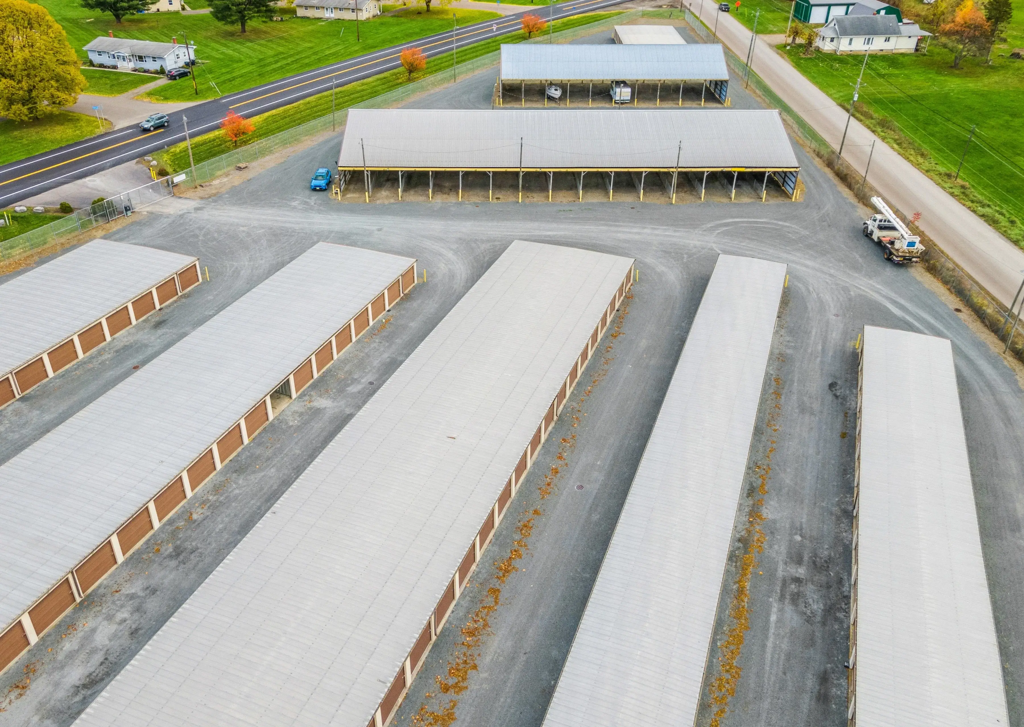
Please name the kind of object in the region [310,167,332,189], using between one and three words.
car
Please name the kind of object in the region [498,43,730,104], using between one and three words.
shed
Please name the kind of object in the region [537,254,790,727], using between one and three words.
building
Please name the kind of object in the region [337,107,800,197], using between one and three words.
shed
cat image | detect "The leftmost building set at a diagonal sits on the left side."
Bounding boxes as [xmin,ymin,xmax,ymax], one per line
[0,238,201,416]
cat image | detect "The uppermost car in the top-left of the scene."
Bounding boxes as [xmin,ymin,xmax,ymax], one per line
[166,66,191,79]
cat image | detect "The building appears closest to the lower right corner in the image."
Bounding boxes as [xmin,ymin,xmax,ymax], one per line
[838,325,1010,727]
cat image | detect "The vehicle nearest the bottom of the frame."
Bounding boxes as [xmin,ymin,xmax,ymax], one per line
[864,197,927,267]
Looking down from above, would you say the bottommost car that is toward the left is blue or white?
blue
